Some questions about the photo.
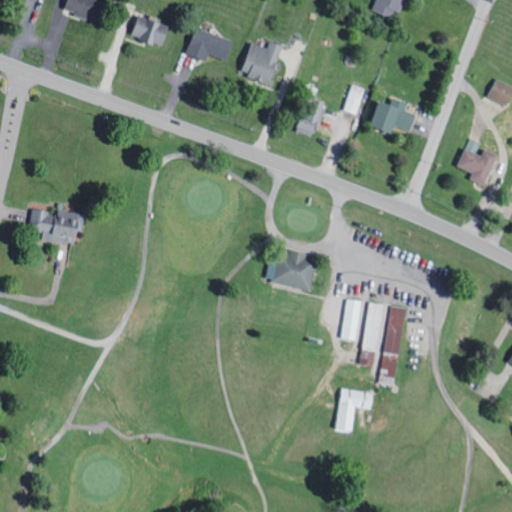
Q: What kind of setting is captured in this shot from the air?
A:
golf course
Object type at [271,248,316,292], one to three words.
building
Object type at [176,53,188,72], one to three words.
vehicle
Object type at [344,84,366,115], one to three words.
shed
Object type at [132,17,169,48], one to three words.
house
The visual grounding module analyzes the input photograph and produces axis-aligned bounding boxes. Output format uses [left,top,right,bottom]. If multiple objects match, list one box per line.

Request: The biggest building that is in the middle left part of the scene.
[30,208,84,246]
